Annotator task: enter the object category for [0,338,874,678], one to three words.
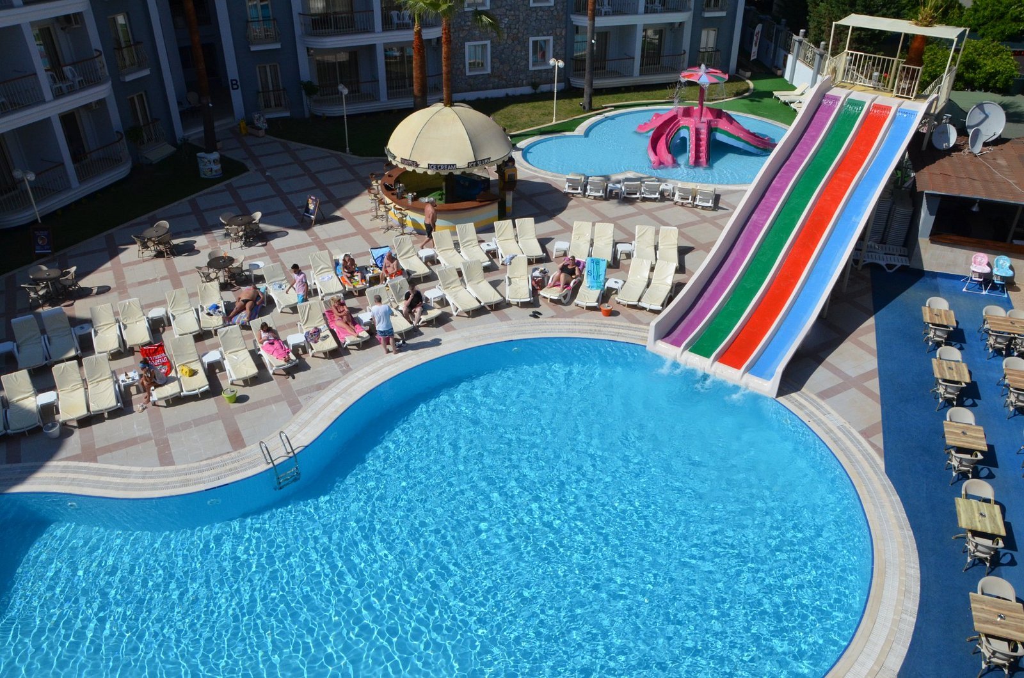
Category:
swimming pool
